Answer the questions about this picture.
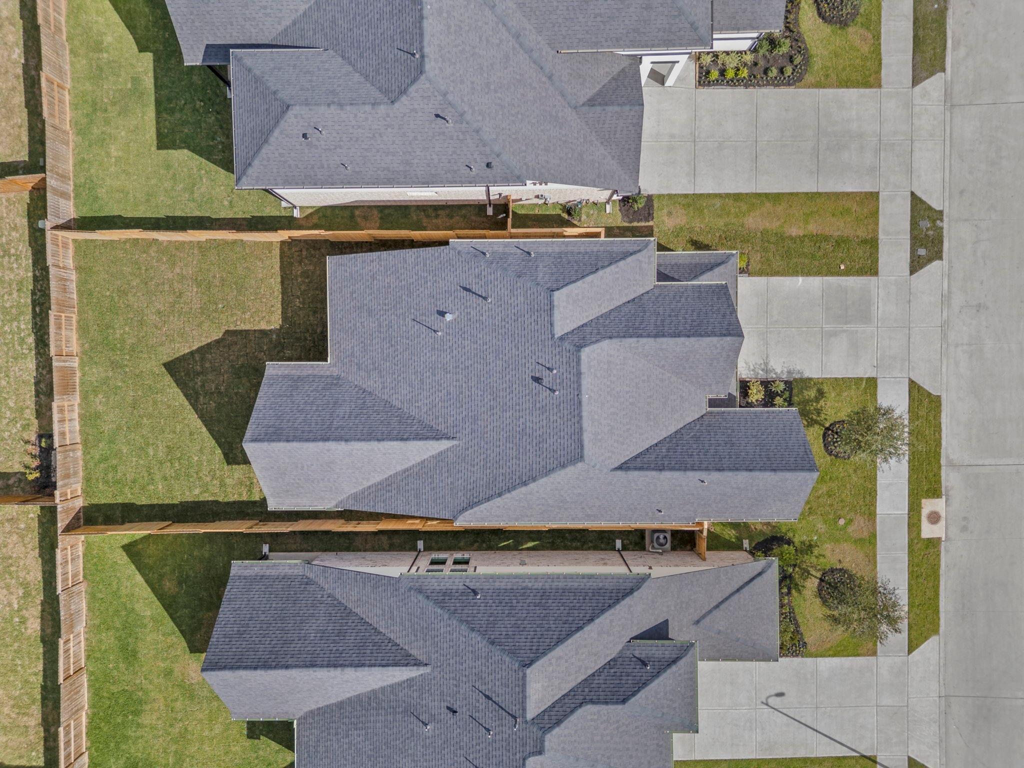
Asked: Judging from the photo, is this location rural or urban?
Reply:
urban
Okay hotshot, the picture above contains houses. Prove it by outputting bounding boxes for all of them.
[201,547,782,768]
[165,0,785,213]
[242,236,819,527]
